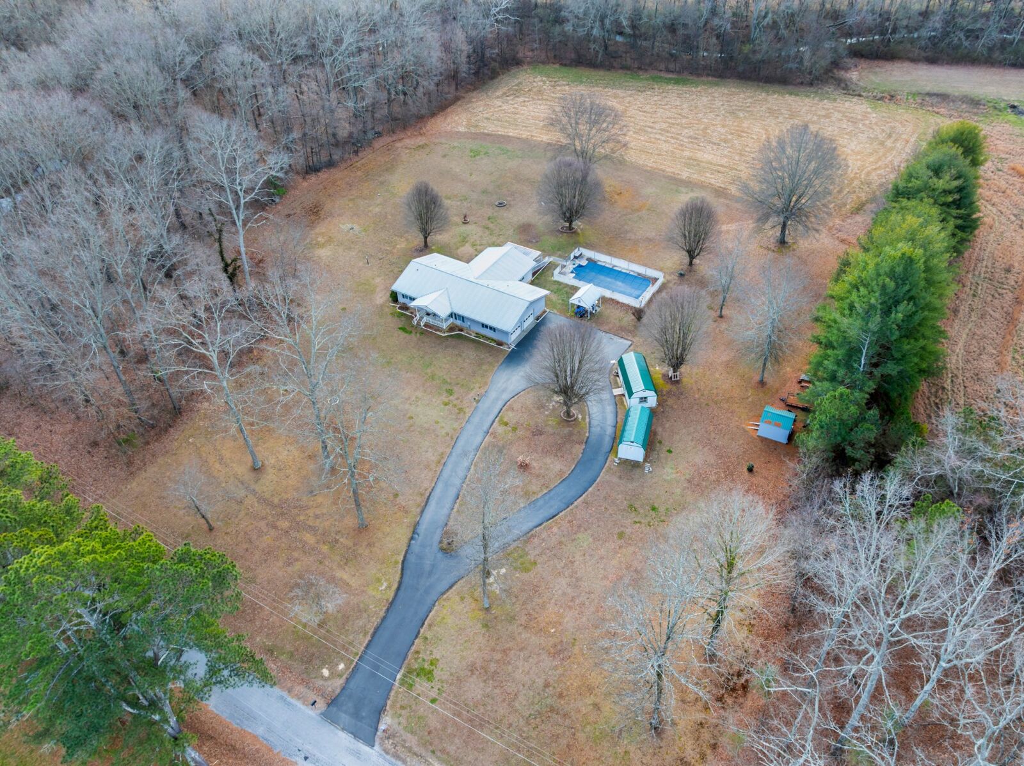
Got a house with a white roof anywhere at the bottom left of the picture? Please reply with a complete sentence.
No, there's no house with a white roof to be seen at the bottom left of the picture.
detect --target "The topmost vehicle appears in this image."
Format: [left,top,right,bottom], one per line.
[575,304,587,319]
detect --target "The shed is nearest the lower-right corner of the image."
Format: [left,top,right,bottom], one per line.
[757,404,796,443]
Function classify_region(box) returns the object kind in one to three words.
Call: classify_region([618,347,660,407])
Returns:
shed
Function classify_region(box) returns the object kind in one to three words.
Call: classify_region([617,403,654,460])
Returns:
shed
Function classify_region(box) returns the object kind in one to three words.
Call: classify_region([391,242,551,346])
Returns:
house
